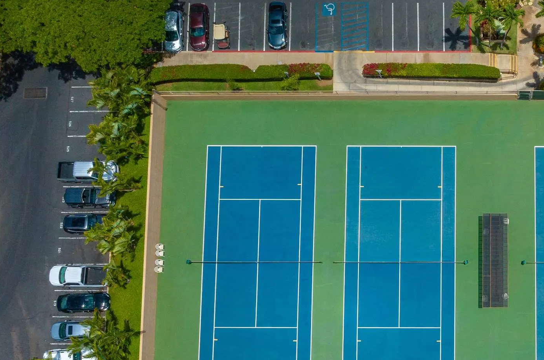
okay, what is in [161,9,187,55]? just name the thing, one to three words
car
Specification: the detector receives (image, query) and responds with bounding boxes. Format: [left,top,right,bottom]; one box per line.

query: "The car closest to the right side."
[266,2,289,50]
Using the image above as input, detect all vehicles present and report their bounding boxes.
[56,291,112,314]
[50,319,101,342]
[266,2,289,50]
[212,22,230,49]
[47,264,111,289]
[161,9,187,55]
[187,4,212,53]
[43,347,97,360]
[64,188,115,209]
[56,160,122,184]
[61,213,111,235]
